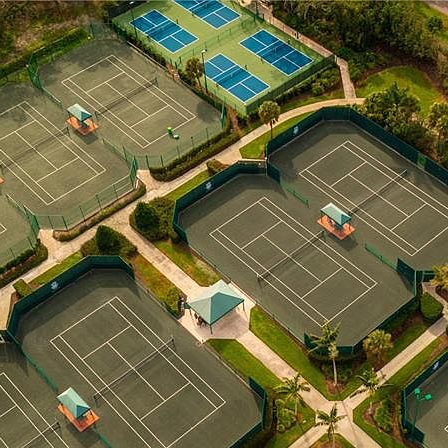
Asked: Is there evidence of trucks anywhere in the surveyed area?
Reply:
No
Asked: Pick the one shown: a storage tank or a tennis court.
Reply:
tennis court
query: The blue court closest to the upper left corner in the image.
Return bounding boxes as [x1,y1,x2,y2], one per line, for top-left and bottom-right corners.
[129,8,199,52]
